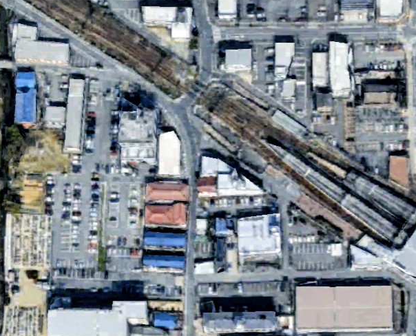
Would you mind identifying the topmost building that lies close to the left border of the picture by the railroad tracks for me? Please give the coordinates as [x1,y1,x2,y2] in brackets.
[13,24,69,64]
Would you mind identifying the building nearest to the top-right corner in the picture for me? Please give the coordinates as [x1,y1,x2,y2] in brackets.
[380,0,402,20]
